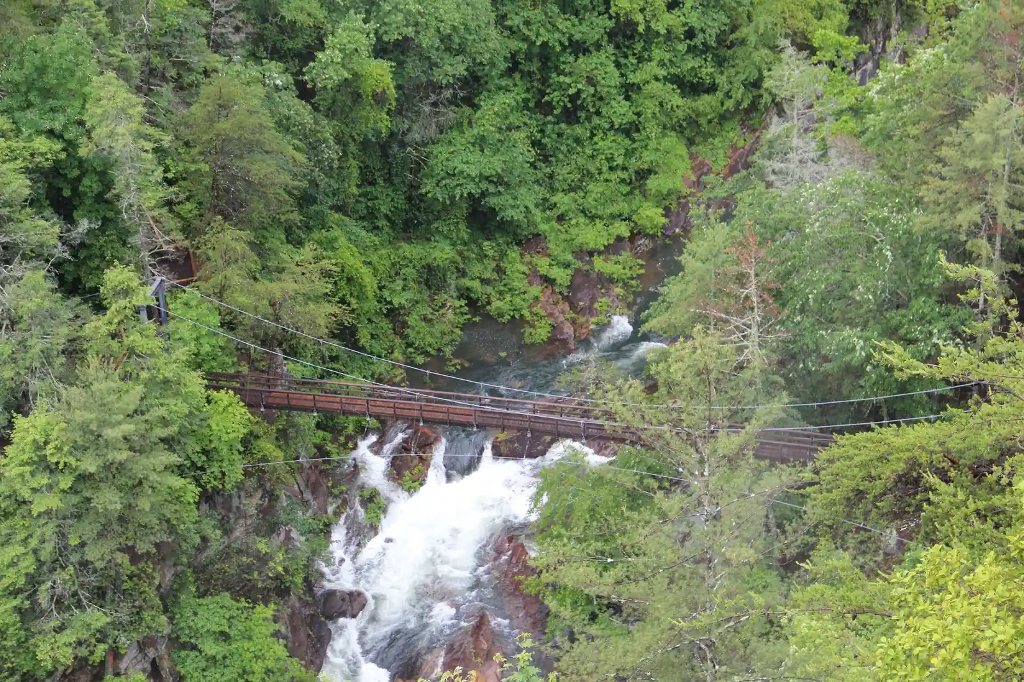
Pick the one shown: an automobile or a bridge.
bridge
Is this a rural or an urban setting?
rural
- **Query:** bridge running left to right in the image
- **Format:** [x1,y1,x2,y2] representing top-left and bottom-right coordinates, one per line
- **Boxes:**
[78,276,1022,549]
